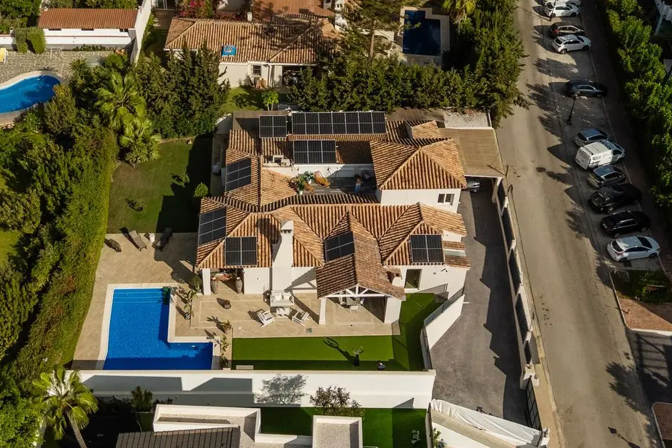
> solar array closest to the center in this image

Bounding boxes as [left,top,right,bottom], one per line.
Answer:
[325,232,355,263]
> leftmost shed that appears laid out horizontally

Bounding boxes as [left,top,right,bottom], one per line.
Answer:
[39,8,144,45]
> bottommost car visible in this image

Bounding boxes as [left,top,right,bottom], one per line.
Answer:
[605,236,665,263]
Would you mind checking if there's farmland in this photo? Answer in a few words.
No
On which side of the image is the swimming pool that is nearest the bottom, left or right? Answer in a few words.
left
